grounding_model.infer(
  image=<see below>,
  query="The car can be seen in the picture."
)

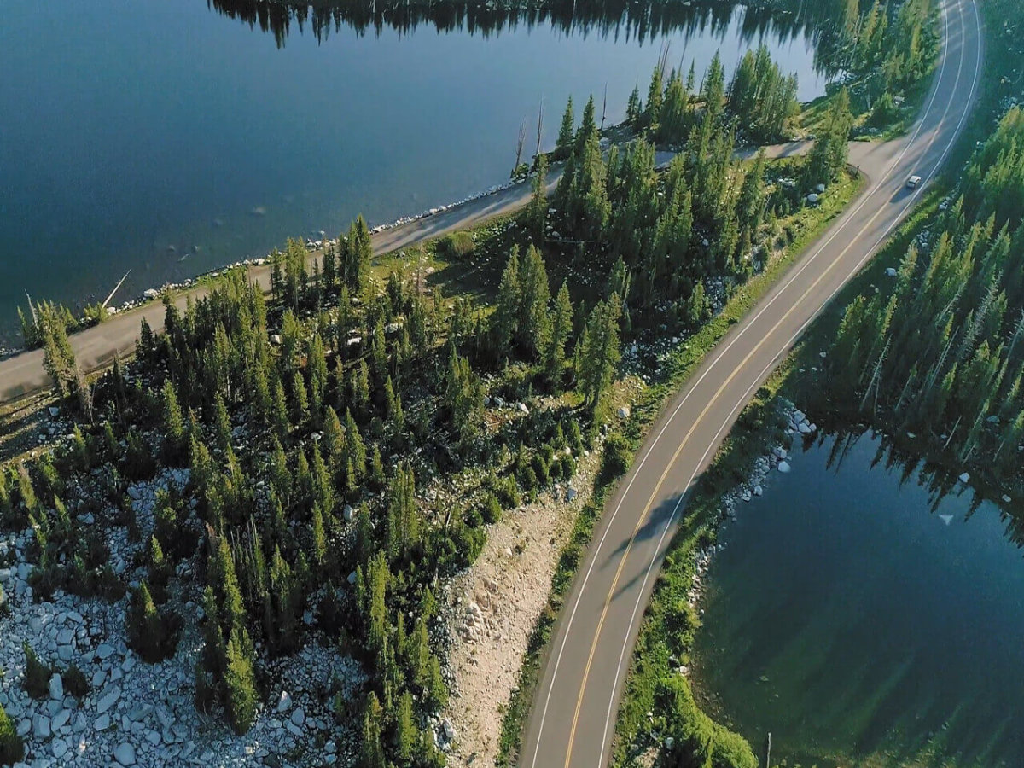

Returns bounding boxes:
[905,176,920,189]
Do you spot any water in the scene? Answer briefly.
Yes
